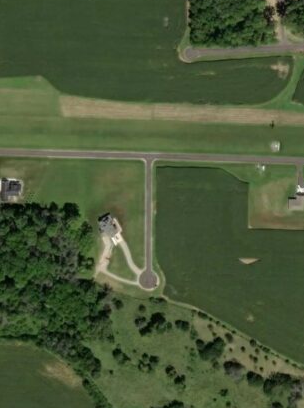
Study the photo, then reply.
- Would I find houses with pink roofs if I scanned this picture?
No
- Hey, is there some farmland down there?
Yes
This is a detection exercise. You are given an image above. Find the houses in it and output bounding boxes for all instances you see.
[0,181,22,203]
[288,195,304,211]
[98,215,121,240]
